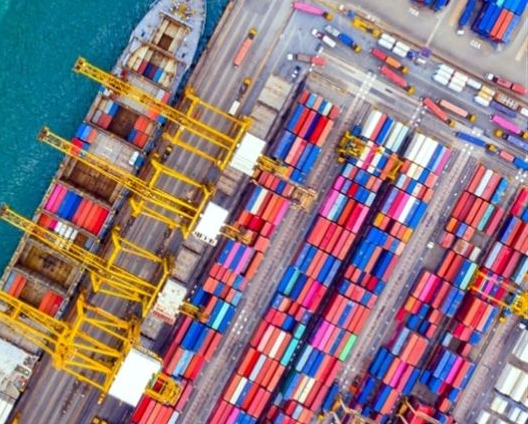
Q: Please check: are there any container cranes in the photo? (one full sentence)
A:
Yes, there is a container crane in the image.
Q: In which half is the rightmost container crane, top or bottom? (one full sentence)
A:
The rightmost container crane is in the bottom half of the image.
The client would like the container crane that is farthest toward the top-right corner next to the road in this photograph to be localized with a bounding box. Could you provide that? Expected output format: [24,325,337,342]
[328,125,409,178]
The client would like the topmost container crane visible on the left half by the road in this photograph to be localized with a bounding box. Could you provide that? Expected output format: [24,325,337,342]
[75,51,296,178]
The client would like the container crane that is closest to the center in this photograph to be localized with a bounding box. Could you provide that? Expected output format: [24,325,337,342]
[245,161,320,213]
